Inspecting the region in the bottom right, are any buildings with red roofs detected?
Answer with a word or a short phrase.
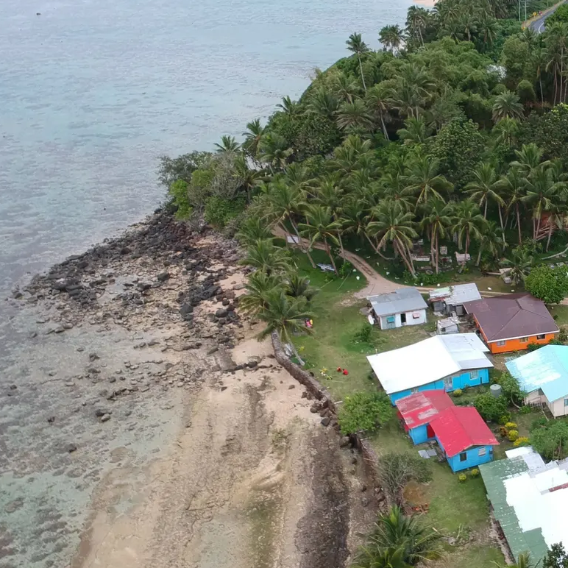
Yes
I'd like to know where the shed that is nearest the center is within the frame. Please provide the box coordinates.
[366,282,424,329]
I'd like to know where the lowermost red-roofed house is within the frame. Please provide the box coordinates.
[394,387,498,473]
